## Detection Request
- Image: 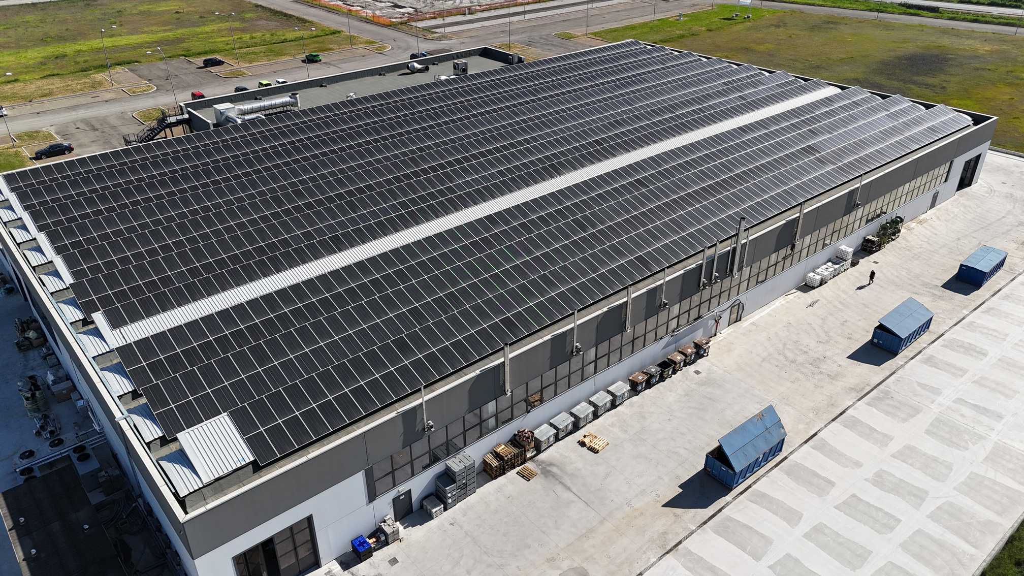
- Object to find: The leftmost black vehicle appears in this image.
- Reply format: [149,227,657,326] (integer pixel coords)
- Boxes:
[35,144,74,160]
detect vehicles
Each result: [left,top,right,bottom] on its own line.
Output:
[204,57,229,68]
[420,50,433,56]
[299,52,321,62]
[407,52,425,59]
[191,92,207,100]
[274,76,289,84]
[234,85,250,92]
[258,80,273,88]
[35,144,74,160]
